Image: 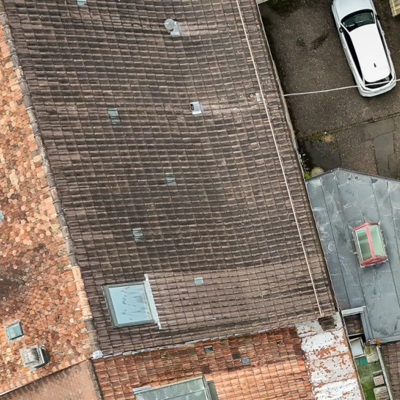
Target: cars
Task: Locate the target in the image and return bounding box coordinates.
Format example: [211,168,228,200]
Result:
[334,0,397,98]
